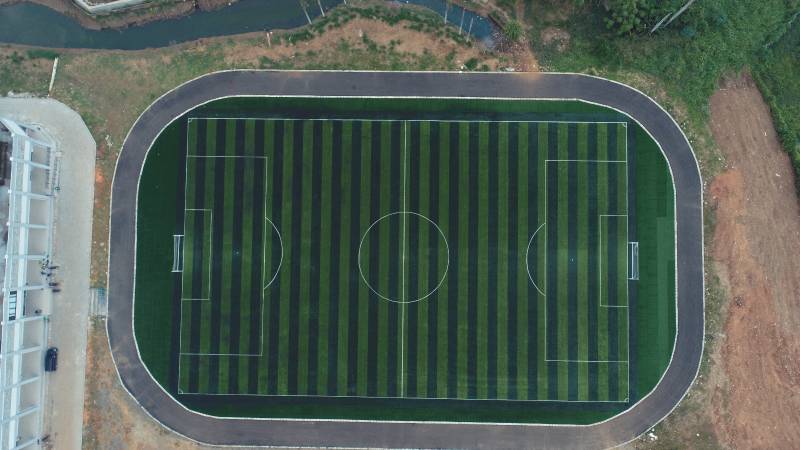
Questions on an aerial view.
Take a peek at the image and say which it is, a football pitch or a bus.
football pitch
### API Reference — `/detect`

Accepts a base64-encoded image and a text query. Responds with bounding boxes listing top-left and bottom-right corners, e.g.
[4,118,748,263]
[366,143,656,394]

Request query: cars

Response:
[45,348,59,373]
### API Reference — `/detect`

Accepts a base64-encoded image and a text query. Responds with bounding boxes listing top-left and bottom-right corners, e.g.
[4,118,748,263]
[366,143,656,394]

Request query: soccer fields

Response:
[134,96,677,425]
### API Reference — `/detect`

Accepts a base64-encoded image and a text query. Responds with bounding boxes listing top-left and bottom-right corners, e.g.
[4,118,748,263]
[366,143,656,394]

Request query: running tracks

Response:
[106,70,705,450]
